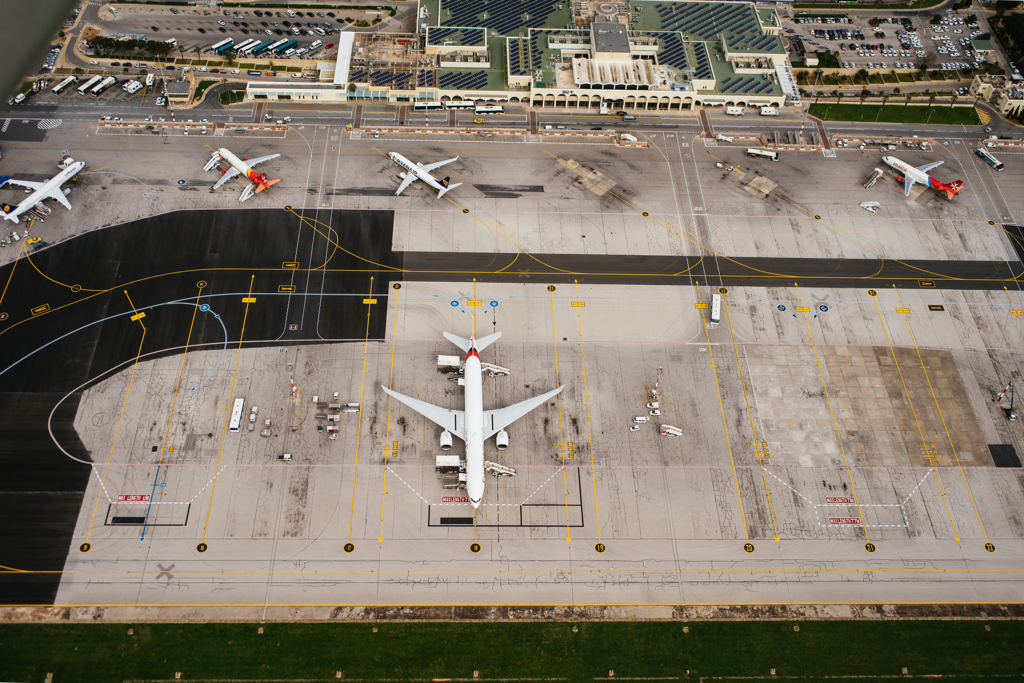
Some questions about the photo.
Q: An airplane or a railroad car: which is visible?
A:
airplane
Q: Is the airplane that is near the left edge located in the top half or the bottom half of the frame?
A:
top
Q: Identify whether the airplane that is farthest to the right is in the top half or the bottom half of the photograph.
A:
top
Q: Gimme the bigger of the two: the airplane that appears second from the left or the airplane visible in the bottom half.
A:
the airplane visible in the bottom half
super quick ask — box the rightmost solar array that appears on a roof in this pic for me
[658,2,758,38]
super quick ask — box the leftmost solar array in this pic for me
[441,0,559,33]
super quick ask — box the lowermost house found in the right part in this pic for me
[969,74,1024,115]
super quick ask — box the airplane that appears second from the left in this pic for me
[215,149,282,195]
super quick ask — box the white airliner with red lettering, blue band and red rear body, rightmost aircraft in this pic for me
[882,158,965,201]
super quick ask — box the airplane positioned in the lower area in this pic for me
[382,319,563,509]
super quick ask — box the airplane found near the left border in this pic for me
[0,163,86,225]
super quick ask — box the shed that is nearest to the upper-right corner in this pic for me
[971,38,996,54]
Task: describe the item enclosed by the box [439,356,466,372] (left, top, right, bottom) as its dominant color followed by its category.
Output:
white vehicle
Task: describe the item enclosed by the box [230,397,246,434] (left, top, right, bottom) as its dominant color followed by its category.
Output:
white vehicle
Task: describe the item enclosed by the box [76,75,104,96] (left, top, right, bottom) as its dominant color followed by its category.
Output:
white bus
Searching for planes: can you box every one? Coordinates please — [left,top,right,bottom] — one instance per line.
[389,152,459,198]
[882,158,965,201]
[0,163,86,225]
[215,149,282,195]
[382,319,563,509]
